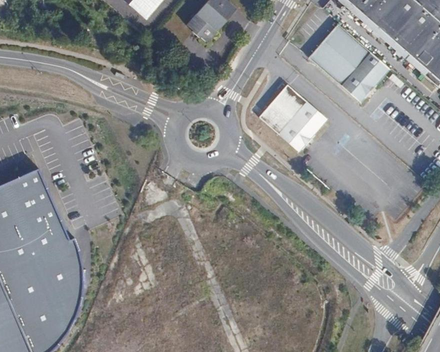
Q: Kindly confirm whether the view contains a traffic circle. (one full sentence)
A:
Yes, the photo shows a traffic circle.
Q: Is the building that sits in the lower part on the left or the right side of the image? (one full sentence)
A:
It is on the left.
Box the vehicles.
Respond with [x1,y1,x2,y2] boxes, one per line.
[10,114,18,124]
[54,178,65,186]
[404,121,414,130]
[385,106,394,115]
[224,106,230,116]
[424,108,434,117]
[88,162,100,170]
[408,125,418,134]
[406,92,416,101]
[410,96,420,105]
[390,110,399,119]
[82,148,93,156]
[266,170,276,179]
[429,112,438,122]
[68,212,79,218]
[414,145,425,156]
[84,156,95,162]
[207,150,218,157]
[399,117,409,126]
[412,128,422,138]
[218,88,228,98]
[52,173,63,180]
[401,88,410,97]
[394,114,404,123]
[415,100,425,110]
[432,158,440,169]
[420,104,430,113]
